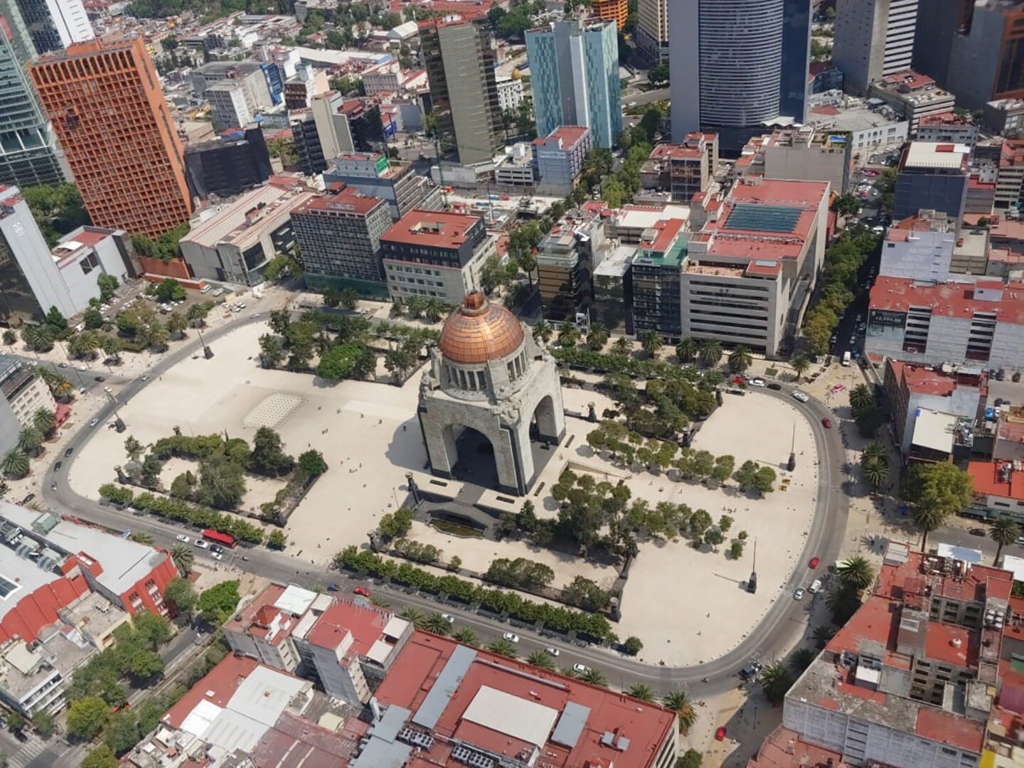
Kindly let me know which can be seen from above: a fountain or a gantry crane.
fountain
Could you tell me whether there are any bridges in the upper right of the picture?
No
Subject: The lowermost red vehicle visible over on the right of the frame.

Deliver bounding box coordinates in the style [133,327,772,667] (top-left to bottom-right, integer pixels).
[714,725,727,740]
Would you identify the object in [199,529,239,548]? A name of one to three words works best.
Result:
vehicle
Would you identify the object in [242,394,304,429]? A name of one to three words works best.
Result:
fountain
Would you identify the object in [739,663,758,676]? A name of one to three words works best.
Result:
vehicle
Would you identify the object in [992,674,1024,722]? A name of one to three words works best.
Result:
house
